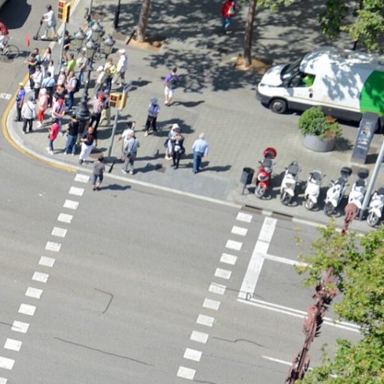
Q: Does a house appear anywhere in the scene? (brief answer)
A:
No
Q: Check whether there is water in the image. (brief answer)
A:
No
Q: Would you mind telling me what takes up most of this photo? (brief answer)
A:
paved ground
